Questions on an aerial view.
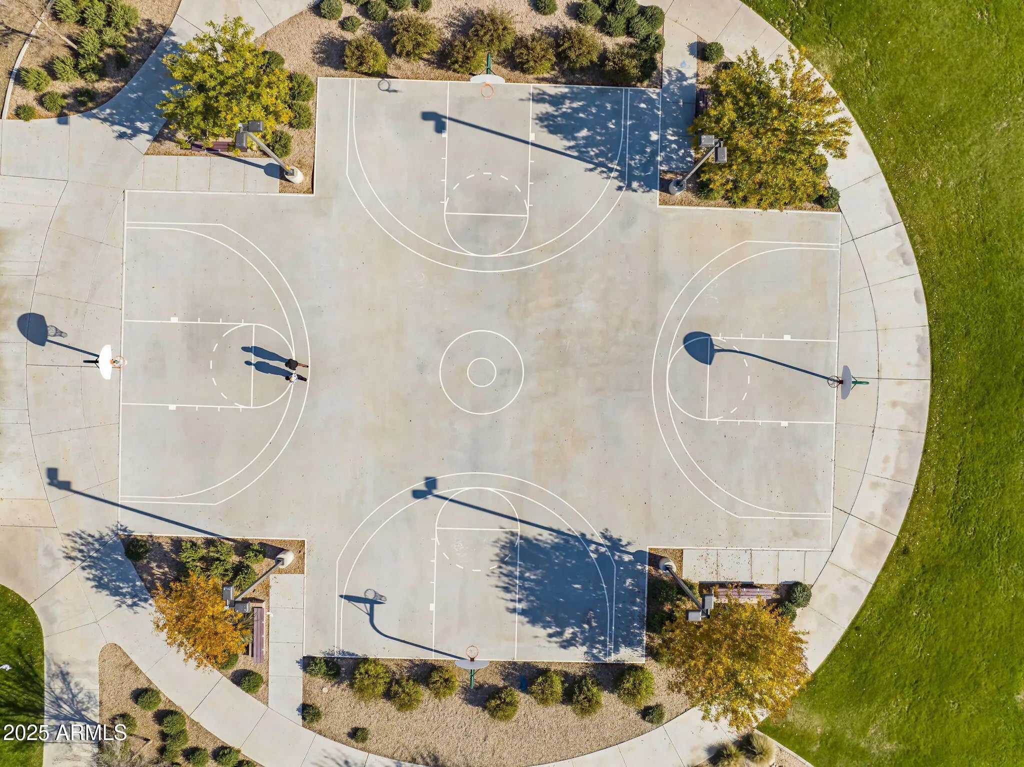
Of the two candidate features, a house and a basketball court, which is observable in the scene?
basketball court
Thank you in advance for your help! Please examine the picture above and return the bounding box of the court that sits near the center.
[119,78,841,663]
